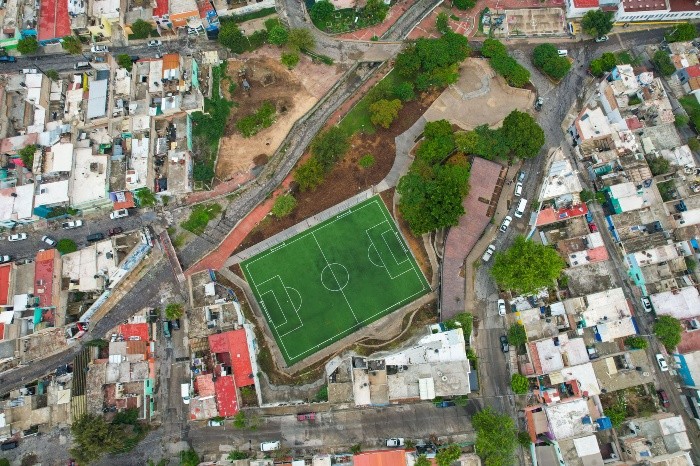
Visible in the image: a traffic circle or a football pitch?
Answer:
football pitch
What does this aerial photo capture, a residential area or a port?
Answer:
residential area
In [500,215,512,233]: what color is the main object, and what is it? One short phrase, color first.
white vehicle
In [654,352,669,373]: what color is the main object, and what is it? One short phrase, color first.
white car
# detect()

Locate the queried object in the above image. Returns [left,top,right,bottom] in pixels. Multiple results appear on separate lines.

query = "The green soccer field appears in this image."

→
[237,192,434,369]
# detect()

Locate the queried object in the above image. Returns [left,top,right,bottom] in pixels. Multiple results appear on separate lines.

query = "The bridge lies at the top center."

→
[357,38,405,64]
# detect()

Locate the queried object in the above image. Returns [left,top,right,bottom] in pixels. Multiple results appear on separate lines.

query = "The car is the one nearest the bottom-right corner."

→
[656,387,671,409]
